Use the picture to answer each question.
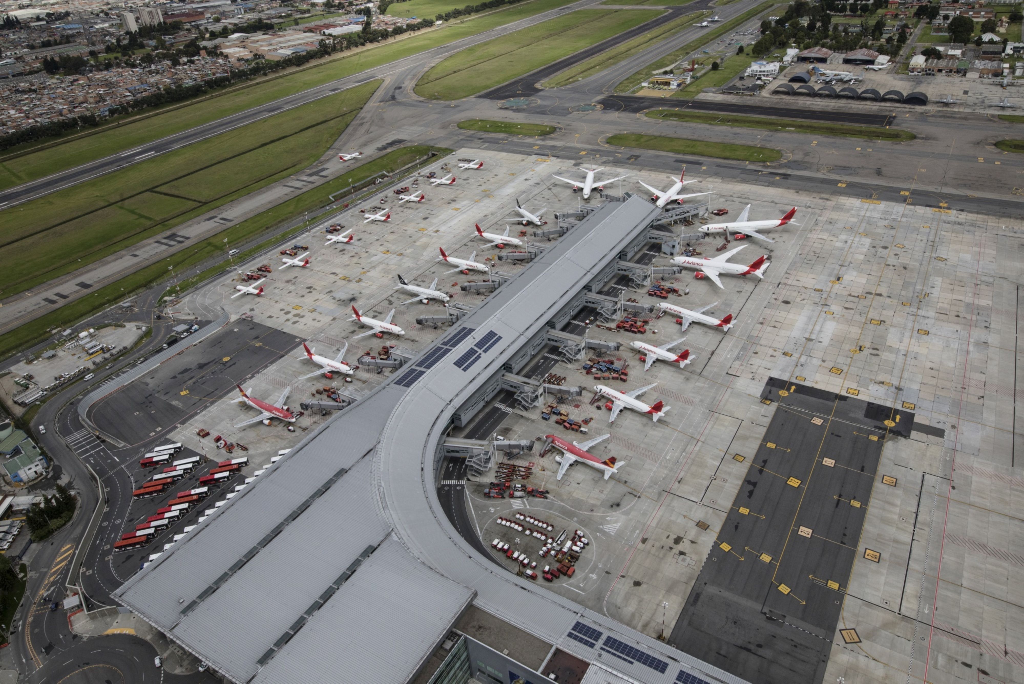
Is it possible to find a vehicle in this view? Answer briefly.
Yes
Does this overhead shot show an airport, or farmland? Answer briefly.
airport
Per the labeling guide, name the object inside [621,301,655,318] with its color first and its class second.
gray jet bridge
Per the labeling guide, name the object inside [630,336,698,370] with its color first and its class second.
white airplane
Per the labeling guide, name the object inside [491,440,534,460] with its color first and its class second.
gray jet bridge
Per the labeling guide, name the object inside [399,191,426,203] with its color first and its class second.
white airplane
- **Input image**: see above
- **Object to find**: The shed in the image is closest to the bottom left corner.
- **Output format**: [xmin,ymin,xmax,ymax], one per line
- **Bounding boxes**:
[60,588,83,610]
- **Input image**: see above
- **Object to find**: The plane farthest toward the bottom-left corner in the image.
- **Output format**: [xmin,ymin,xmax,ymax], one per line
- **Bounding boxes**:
[227,386,296,428]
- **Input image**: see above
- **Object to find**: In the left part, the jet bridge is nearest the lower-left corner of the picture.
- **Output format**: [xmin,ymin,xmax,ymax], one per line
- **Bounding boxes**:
[298,399,353,417]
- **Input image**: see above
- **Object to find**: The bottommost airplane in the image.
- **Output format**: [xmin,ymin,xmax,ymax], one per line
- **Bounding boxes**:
[548,433,625,479]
